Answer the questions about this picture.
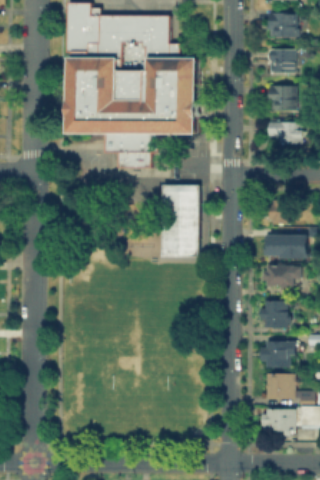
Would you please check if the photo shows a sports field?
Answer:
Yes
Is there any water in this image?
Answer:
No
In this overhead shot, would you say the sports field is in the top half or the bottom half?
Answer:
bottom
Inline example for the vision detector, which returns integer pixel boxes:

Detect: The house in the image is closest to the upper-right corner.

[268,12,300,37]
